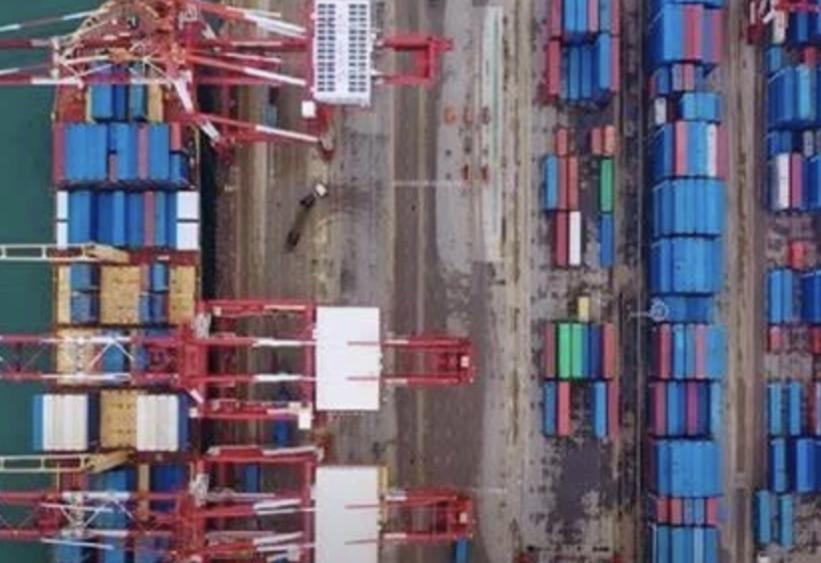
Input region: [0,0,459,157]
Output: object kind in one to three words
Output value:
container crane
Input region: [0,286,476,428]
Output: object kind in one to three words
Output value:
container crane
